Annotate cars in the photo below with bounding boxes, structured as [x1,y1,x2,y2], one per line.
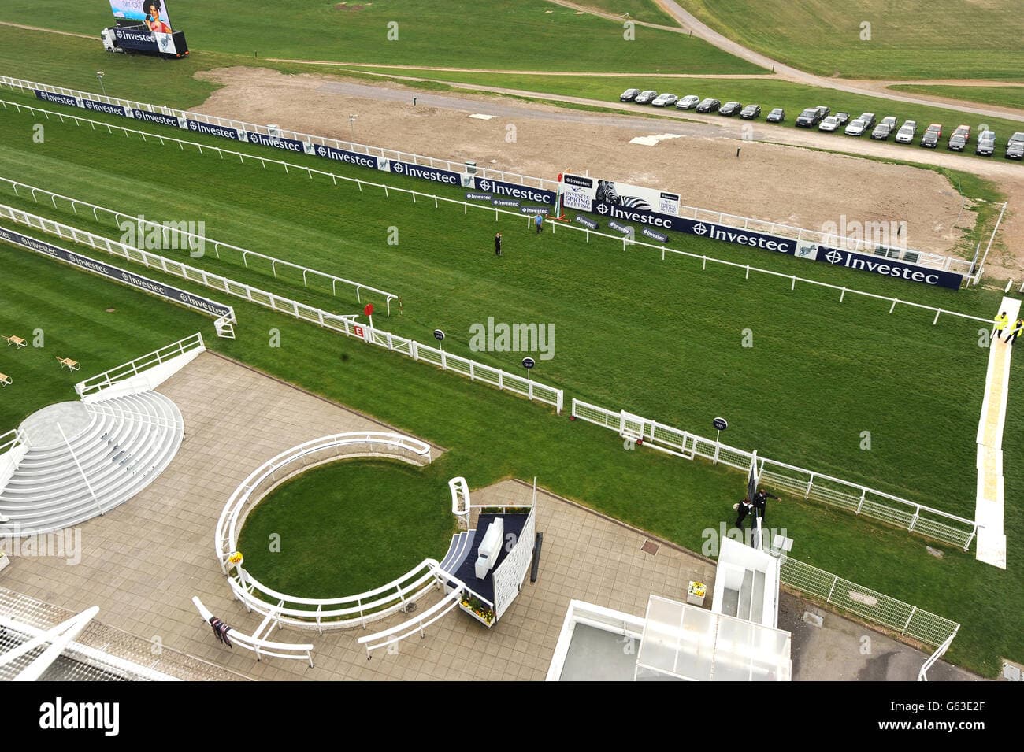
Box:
[931,119,952,138]
[819,115,843,133]
[894,125,917,145]
[980,122,1003,147]
[719,99,744,116]
[837,110,856,125]
[871,122,892,141]
[861,111,880,130]
[972,137,997,157]
[920,130,942,149]
[823,102,841,119]
[1005,129,1024,143]
[798,106,824,128]
[678,95,702,110]
[637,90,660,104]
[844,120,867,138]
[653,93,678,107]
[945,133,969,153]
[1002,140,1024,161]
[885,114,906,133]
[697,98,721,114]
[768,107,789,124]
[906,116,926,134]
[622,87,646,101]
[957,121,979,141]
[740,104,763,121]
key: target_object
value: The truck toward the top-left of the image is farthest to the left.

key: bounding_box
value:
[103,25,189,56]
